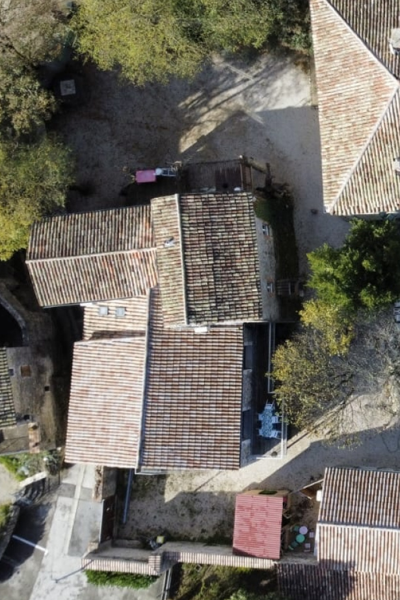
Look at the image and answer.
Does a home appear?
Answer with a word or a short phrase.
Yes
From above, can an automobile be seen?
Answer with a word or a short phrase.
No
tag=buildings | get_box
[233,487,292,559]
[277,461,400,600]
[0,346,53,431]
[25,191,287,474]
[309,0,400,226]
